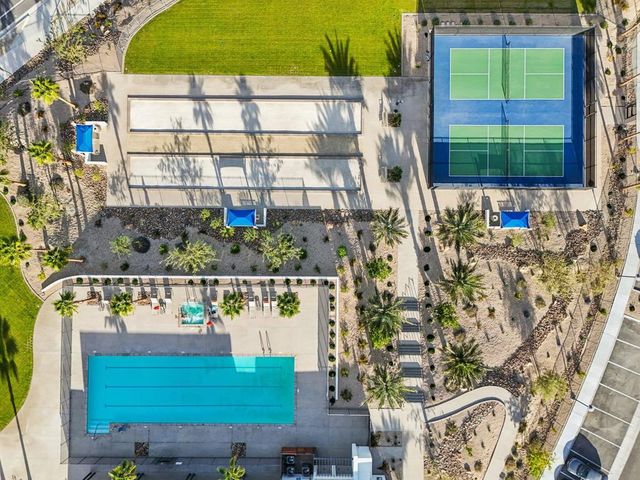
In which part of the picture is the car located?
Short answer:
bottom right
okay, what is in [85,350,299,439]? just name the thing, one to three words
swimming pool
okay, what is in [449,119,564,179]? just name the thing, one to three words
sports court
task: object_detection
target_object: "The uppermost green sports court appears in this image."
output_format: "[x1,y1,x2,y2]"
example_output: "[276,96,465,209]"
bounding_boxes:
[450,41,564,102]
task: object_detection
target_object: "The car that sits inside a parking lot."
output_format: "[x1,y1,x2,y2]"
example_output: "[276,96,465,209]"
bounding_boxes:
[565,457,608,480]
